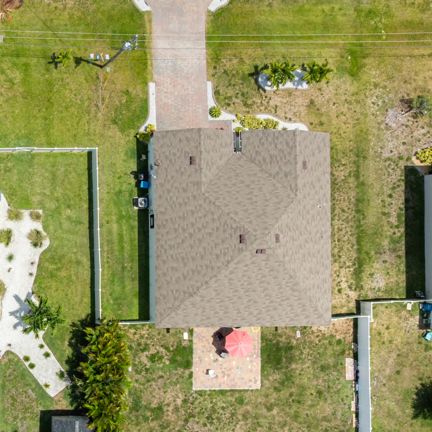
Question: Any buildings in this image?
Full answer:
Yes, the image includes a building.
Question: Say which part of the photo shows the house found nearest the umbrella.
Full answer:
You can find the house found nearest the umbrella in the center area of the picture.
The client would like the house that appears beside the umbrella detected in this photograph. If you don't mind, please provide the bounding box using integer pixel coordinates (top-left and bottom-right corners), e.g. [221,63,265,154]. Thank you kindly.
[150,129,331,328]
